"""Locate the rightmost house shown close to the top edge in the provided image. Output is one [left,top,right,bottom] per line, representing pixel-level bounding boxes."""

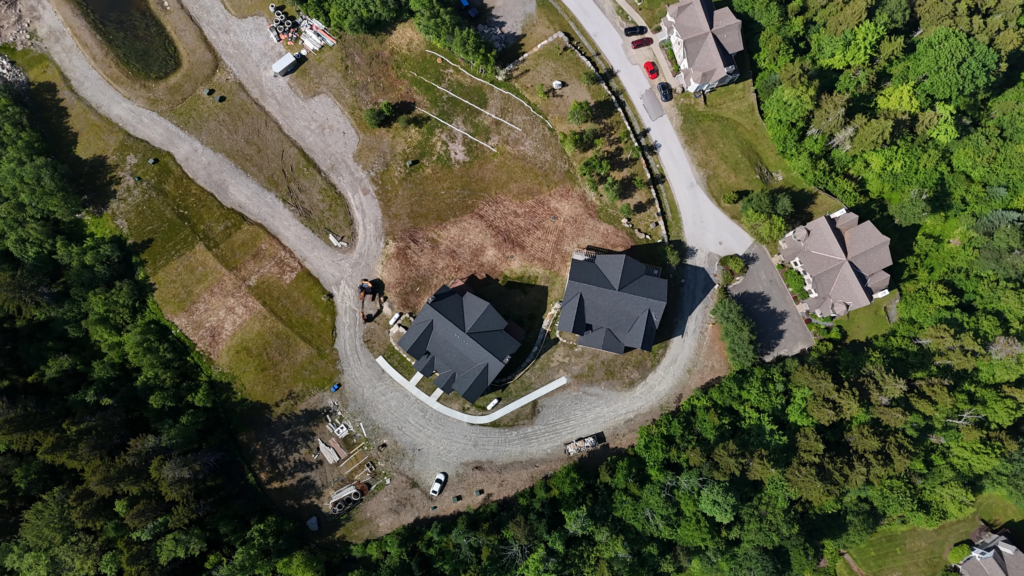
[655,0,744,94]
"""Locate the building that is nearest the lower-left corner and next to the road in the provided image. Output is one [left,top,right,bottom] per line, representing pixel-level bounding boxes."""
[397,277,527,404]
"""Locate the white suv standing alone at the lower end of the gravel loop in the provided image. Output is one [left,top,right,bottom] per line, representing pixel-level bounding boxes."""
[429,472,445,497]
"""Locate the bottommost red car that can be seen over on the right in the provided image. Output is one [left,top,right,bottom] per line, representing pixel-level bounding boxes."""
[643,61,657,80]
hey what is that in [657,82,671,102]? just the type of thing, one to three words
car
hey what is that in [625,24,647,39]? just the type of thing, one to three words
car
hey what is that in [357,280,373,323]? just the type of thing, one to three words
work vehicle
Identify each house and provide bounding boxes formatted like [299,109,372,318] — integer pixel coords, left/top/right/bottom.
[655,0,744,94]
[949,532,1024,576]
[397,277,527,404]
[771,208,893,317]
[558,248,667,356]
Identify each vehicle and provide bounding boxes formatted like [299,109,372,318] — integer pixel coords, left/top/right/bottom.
[643,61,657,80]
[357,280,373,323]
[657,82,671,102]
[429,472,445,497]
[625,24,647,39]
[631,36,653,51]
